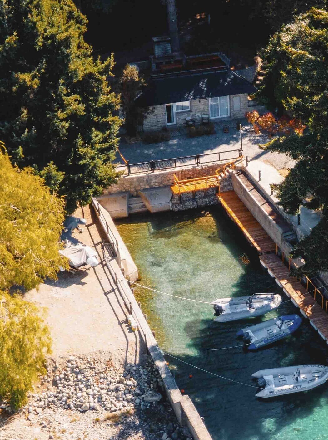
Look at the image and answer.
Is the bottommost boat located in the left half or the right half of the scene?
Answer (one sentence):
It is on the right.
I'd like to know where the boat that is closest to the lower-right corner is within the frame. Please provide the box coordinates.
[247,364,328,400]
